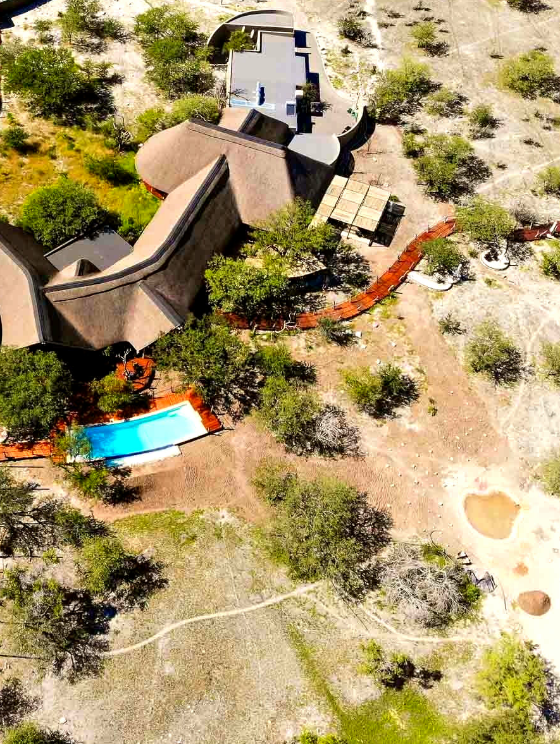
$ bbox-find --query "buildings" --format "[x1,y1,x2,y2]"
[221,8,294,45]
[0,108,331,357]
